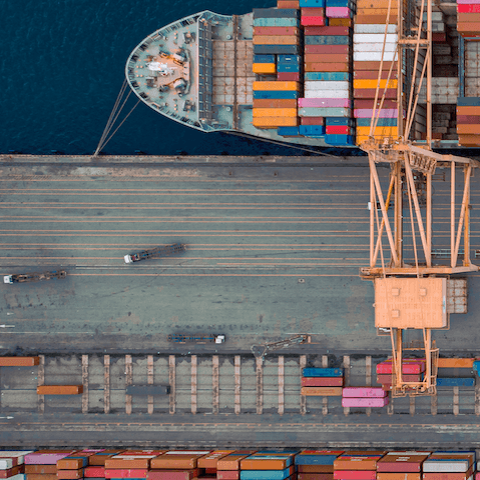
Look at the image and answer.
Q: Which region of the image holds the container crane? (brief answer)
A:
right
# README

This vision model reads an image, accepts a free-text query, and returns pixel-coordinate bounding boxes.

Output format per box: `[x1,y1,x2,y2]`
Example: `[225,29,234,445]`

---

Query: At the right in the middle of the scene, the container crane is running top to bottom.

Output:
[358,0,480,398]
